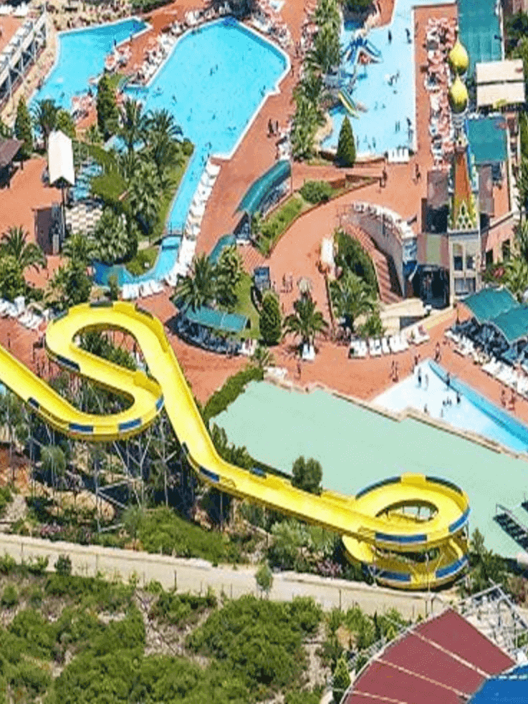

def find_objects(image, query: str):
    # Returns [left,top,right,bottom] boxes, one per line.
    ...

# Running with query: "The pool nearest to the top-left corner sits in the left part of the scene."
[30,18,150,113]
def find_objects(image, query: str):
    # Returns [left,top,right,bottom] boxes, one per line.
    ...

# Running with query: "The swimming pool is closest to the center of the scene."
[91,240,181,291]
